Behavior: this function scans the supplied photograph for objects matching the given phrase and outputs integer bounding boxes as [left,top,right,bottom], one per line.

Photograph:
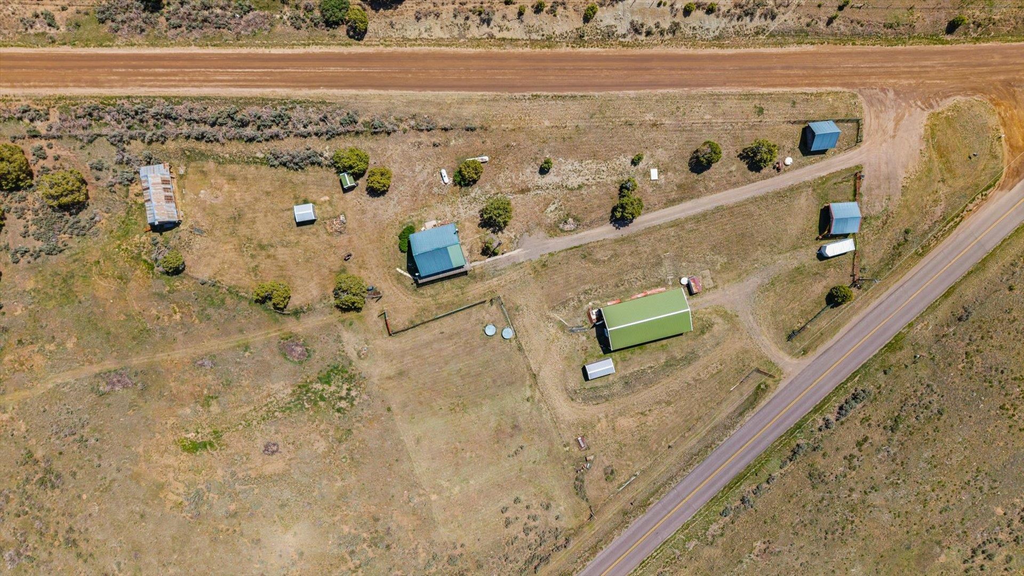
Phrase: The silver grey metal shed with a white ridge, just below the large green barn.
[586,359,615,379]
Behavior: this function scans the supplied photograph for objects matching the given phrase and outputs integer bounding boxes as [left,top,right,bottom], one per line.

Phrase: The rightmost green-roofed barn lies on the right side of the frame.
[601,287,692,351]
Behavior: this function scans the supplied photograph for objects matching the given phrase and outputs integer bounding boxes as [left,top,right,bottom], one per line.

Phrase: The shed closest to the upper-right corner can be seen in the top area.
[803,119,841,153]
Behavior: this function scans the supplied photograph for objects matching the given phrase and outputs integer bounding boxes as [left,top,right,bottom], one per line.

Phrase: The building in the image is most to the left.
[138,165,188,226]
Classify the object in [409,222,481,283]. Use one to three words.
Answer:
house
